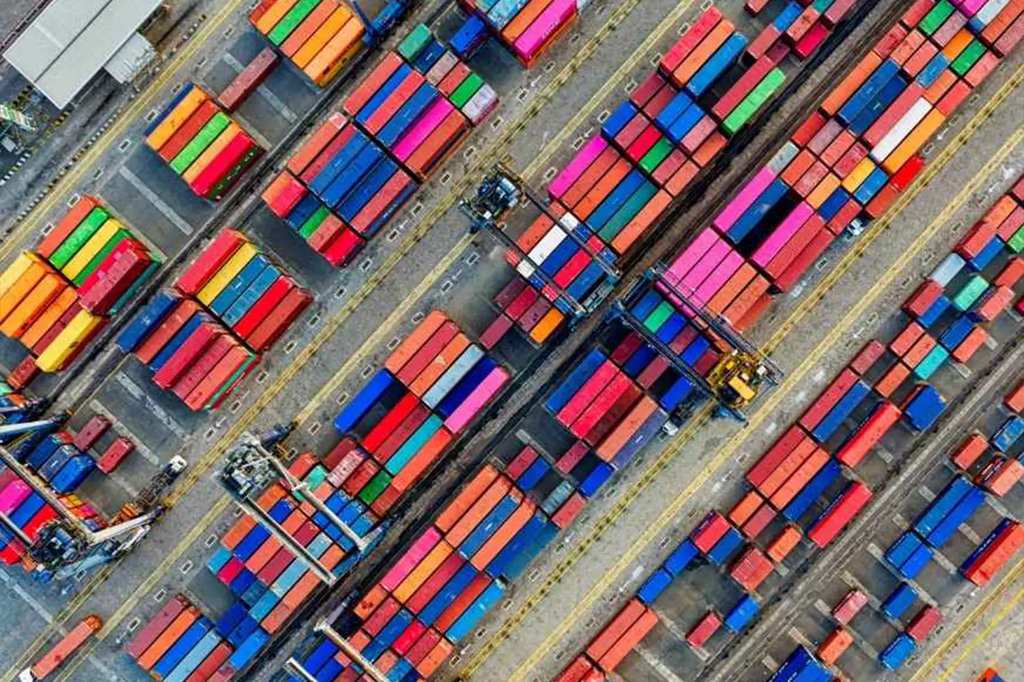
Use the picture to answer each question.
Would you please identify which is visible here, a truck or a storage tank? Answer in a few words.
truck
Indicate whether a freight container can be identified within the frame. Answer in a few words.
Yes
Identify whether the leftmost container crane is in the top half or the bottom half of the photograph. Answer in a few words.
bottom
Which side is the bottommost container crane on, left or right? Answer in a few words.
left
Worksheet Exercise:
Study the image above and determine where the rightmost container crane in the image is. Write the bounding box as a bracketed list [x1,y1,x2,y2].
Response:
[599,259,786,424]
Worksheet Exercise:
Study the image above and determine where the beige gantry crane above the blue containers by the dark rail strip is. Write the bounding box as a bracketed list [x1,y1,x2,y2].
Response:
[287,575,399,682]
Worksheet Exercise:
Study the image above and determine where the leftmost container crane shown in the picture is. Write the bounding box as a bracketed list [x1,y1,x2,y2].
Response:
[0,411,172,582]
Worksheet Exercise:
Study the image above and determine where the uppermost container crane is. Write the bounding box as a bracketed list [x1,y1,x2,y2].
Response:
[349,0,418,57]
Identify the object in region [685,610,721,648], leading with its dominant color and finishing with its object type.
red shipping container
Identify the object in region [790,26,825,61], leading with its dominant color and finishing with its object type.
red shipping container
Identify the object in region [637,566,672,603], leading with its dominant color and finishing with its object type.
blue shipping container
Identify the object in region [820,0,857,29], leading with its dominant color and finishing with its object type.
pink shipping container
